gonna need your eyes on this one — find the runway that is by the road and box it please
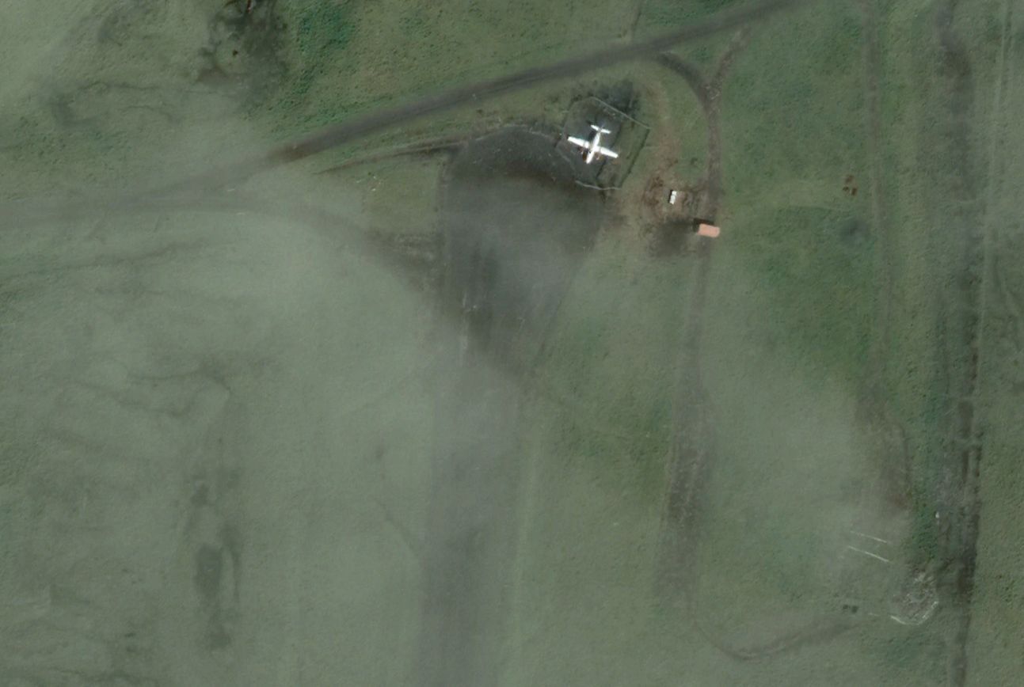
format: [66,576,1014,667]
[413,96,619,687]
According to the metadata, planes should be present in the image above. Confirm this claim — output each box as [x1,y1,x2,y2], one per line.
[569,124,618,164]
